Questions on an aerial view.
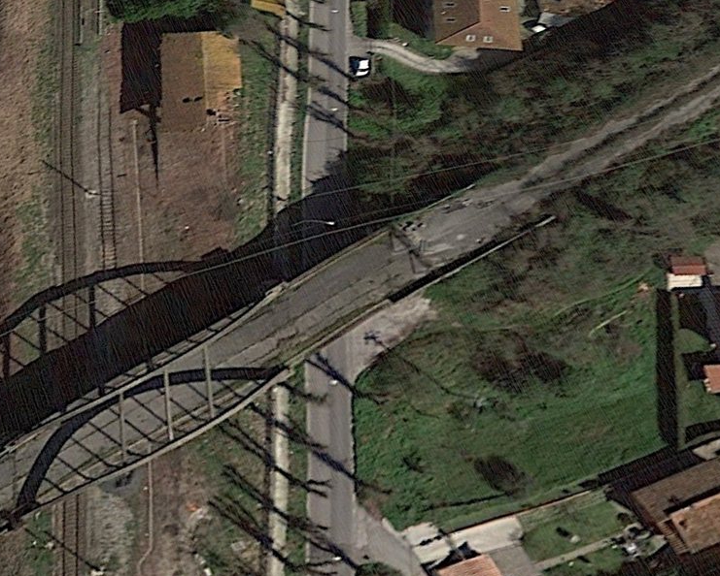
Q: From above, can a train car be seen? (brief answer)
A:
No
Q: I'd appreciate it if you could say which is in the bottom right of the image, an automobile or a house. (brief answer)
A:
house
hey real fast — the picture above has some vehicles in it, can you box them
[355,54,373,79]
[523,17,552,36]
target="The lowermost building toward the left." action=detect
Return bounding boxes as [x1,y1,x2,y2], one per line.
[160,31,242,130]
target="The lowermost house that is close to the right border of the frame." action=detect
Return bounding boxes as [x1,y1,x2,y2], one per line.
[622,453,720,558]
